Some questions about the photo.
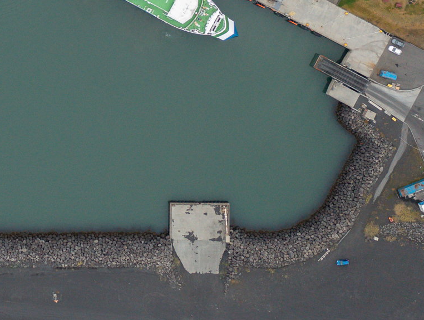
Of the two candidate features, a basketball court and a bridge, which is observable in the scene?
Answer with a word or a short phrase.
bridge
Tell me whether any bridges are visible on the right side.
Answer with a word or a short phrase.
Yes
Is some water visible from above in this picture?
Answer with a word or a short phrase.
Yes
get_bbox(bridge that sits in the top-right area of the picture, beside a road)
[305,52,370,94]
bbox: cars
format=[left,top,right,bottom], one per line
[336,259,350,266]
[388,45,402,56]
[390,38,404,49]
